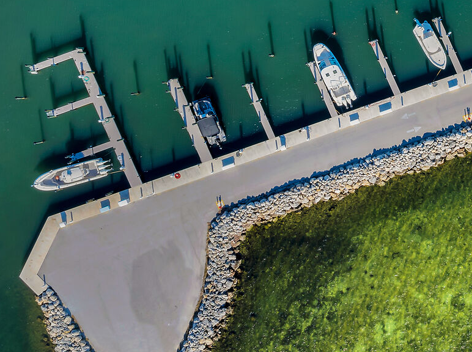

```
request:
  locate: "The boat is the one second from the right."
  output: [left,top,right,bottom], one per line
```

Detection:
[316,45,352,108]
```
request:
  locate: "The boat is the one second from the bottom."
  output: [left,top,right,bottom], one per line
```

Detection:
[196,99,226,146]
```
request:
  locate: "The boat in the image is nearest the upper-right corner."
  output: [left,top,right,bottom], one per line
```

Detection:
[414,22,446,69]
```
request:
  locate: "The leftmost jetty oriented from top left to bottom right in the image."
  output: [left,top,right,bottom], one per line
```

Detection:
[25,47,142,188]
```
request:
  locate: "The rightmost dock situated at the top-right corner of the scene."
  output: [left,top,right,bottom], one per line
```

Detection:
[431,16,463,73]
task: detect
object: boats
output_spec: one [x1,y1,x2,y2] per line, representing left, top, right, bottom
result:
[196,99,226,146]
[316,45,352,108]
[30,161,110,191]
[414,22,446,69]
